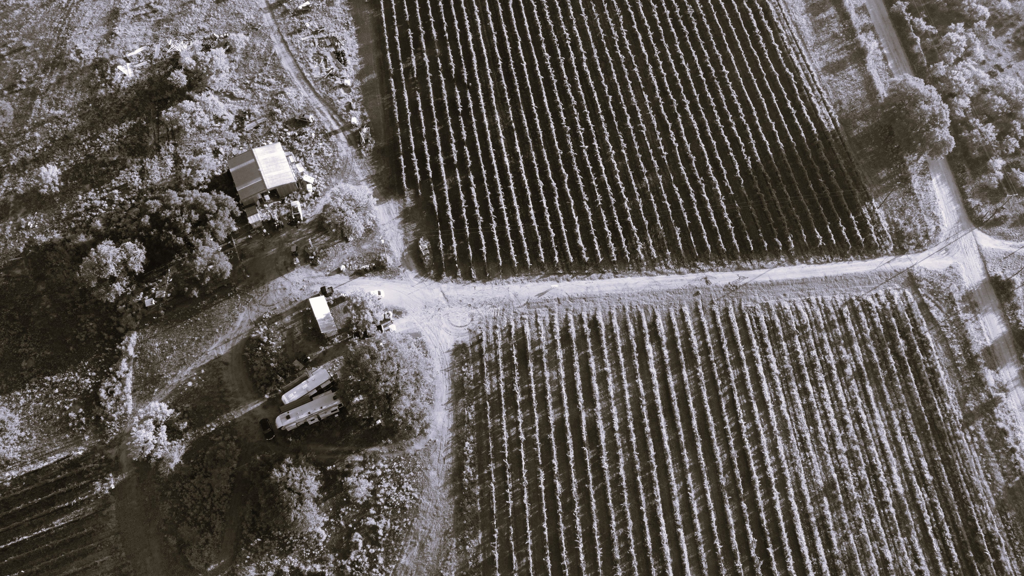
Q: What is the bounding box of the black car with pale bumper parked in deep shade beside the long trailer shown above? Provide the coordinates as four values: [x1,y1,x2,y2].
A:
[259,417,276,442]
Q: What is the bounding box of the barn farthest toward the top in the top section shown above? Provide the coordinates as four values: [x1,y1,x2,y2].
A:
[227,142,298,207]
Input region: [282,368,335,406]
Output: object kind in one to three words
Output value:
trailer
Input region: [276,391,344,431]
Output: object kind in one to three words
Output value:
trailer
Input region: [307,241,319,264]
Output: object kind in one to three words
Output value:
vehicle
